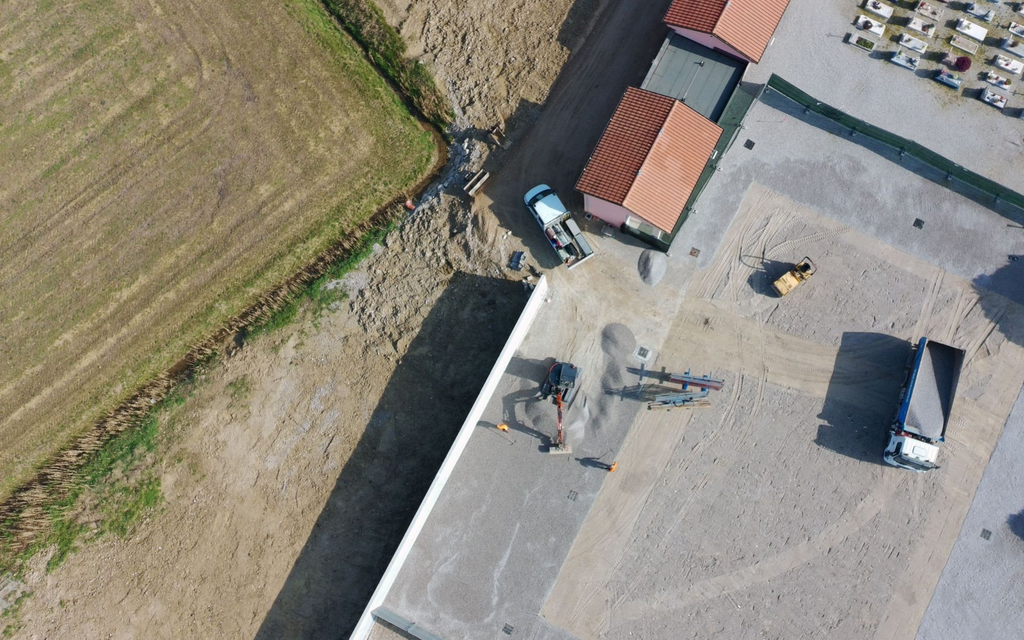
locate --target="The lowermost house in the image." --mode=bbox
[574,85,725,251]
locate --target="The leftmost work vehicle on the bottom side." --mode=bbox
[540,359,585,452]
